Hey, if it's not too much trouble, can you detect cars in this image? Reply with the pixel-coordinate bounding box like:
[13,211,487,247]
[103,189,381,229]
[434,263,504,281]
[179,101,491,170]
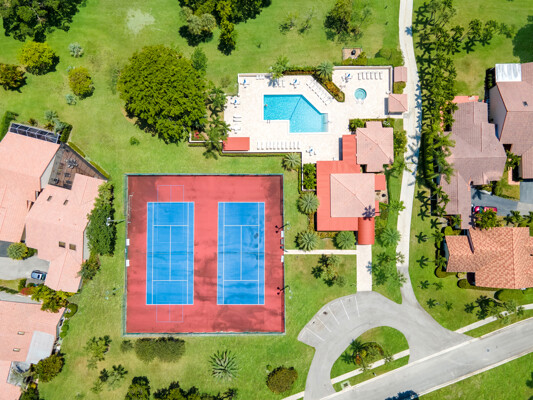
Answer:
[28,271,47,281]
[476,205,499,214]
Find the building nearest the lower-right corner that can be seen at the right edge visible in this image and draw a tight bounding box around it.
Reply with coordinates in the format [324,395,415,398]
[441,227,533,289]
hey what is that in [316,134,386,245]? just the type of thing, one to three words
building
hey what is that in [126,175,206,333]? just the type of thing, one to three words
tennis court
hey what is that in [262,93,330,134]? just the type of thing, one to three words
swimming pool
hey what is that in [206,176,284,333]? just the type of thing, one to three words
tennis court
